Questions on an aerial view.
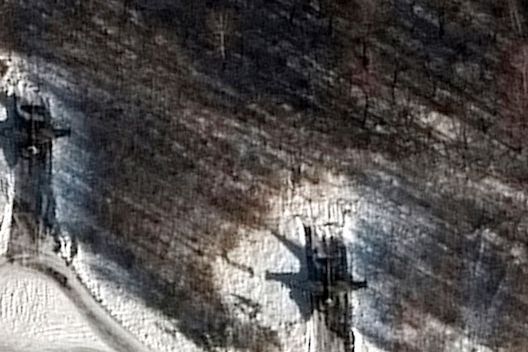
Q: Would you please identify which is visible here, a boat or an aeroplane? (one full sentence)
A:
It is an aeroplane that can be seen here.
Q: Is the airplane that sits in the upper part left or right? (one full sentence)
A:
The airplane that sits in the upper part sits on the left side.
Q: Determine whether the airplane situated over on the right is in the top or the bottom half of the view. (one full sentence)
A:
The bottom half of the photo is where the airplane situated over on the right is.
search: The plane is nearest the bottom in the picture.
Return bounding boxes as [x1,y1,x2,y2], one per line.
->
[287,249,368,320]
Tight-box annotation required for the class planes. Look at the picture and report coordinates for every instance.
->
[287,249,368,320]
[0,96,74,170]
